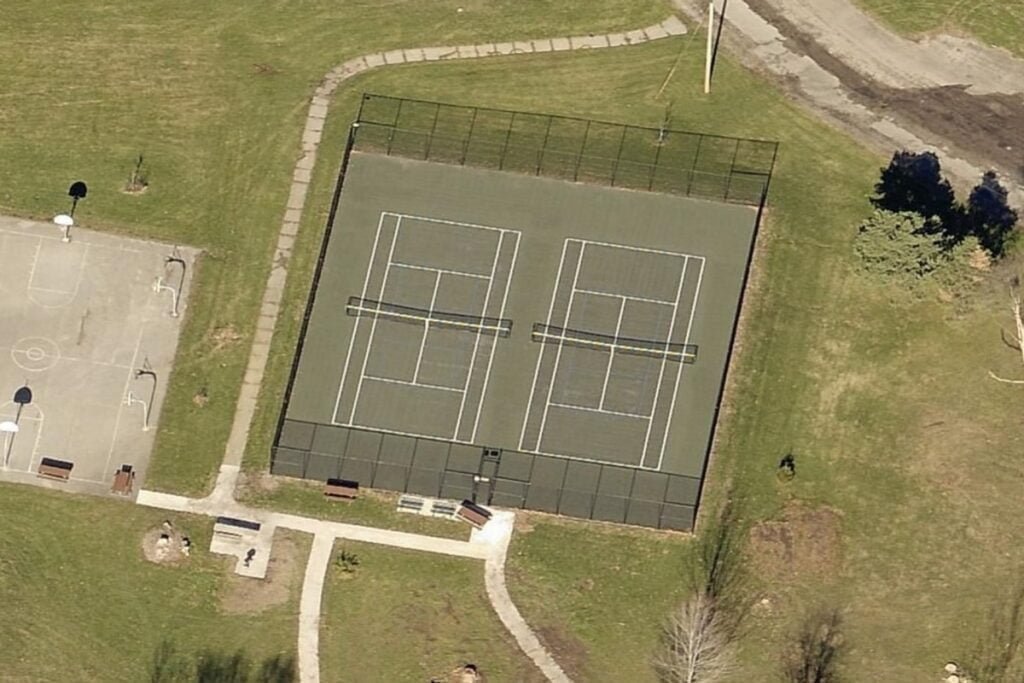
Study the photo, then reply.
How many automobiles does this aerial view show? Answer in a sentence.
The picture shows no automobiles.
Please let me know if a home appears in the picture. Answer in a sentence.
No, the scene contains no home.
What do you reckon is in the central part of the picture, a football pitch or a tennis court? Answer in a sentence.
The one visible in the central part of the picture is a tennis court.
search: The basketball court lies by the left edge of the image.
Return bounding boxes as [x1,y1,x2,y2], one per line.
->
[0,216,203,498]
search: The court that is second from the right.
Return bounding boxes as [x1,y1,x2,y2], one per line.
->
[333,213,520,443]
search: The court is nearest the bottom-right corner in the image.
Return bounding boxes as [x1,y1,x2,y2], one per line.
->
[519,239,704,470]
